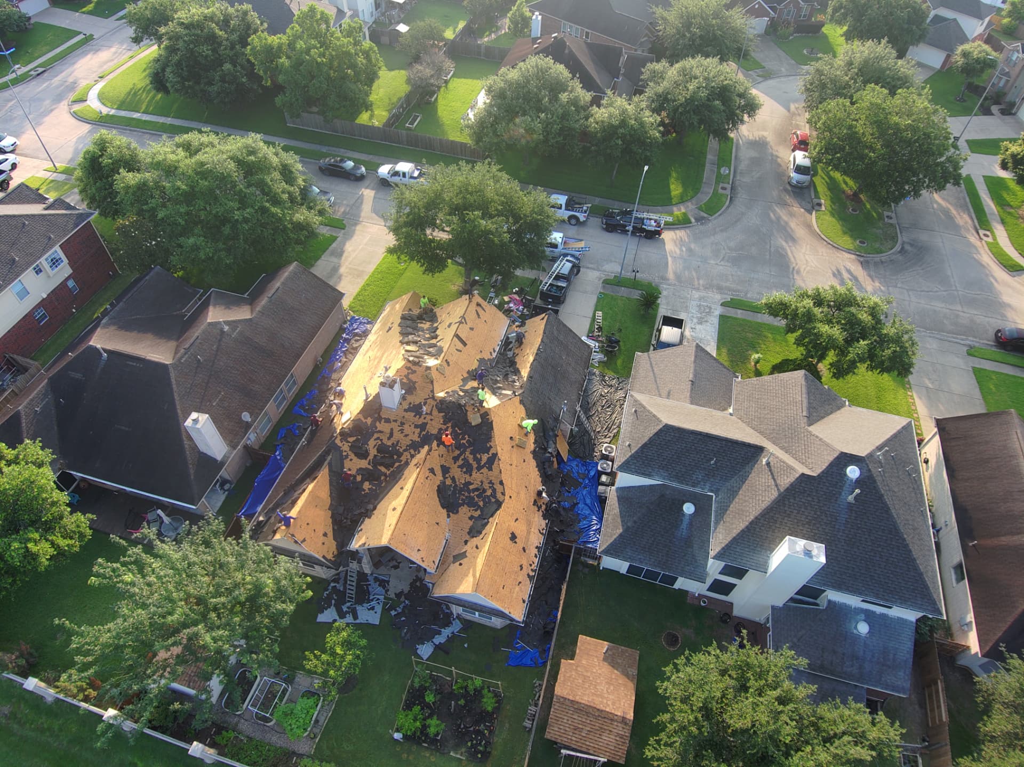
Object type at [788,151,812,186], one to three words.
car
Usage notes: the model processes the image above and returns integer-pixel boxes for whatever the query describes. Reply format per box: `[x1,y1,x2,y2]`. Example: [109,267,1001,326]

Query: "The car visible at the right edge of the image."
[990,328,1024,355]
